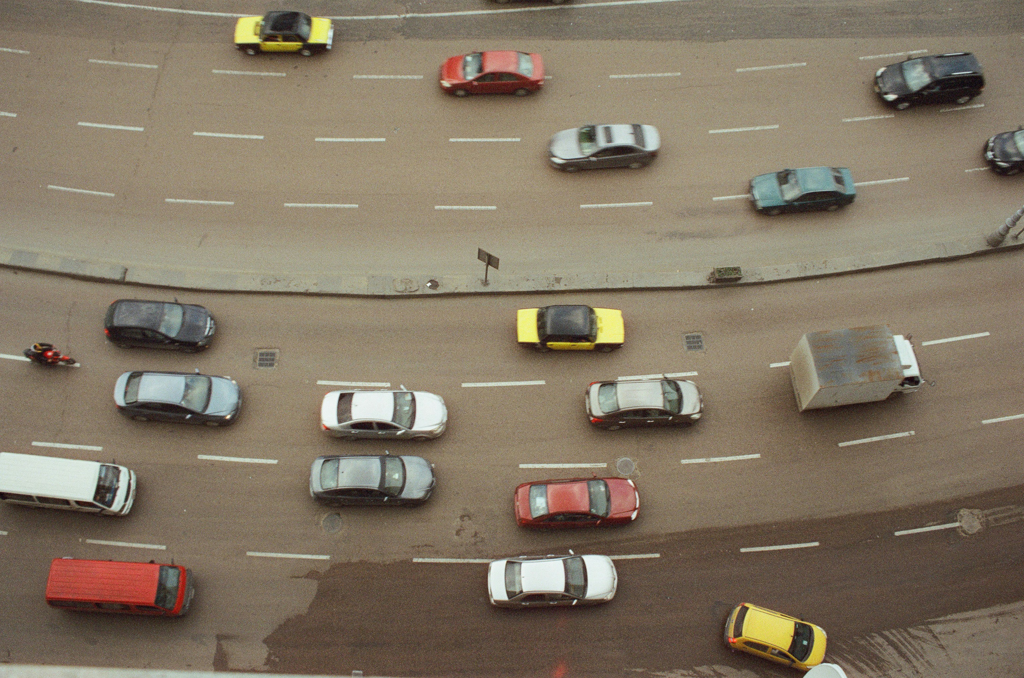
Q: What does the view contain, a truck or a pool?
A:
truck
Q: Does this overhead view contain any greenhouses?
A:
No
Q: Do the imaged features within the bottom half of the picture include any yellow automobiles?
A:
Yes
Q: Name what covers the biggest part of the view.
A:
paved ground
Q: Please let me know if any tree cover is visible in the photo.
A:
No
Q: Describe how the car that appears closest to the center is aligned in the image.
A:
from side to side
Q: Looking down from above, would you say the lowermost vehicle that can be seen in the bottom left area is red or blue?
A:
red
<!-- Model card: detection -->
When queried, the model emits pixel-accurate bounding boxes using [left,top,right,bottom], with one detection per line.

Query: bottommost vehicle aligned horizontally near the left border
[46,559,193,620]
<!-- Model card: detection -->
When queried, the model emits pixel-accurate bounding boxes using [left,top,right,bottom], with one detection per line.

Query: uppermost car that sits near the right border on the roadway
[873,51,985,110]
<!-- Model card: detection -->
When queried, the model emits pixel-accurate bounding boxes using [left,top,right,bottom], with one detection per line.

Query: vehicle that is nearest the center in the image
[517,300,625,352]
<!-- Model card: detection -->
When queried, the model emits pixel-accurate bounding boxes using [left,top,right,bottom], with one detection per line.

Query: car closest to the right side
[984,127,1024,179]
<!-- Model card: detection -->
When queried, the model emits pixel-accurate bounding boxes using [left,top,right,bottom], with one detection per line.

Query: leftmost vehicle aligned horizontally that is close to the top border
[235,10,333,56]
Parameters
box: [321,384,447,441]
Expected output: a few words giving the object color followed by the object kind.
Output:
white car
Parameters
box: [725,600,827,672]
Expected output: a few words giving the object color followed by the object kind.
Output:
yellow car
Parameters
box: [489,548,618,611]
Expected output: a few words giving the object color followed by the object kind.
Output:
white car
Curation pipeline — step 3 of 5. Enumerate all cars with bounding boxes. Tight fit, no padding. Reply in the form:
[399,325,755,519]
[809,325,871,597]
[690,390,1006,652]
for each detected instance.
[548,122,661,174]
[515,469,639,530]
[984,127,1024,179]
[489,548,618,611]
[114,369,242,426]
[585,372,704,430]
[749,164,856,215]
[321,384,447,441]
[310,448,435,506]
[235,10,333,56]
[725,600,827,672]
[105,296,214,353]
[439,49,544,97]
[517,300,625,352]
[873,51,985,110]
